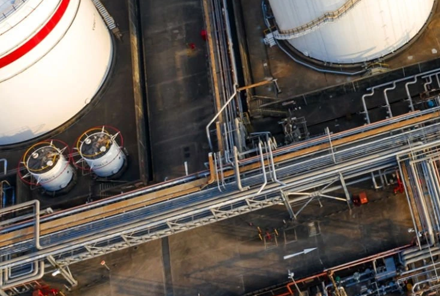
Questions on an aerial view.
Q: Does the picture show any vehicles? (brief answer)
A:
No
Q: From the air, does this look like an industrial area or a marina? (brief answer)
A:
industrial area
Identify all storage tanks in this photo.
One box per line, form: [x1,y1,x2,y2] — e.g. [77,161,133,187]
[269,0,439,67]
[0,0,125,153]
[74,126,131,183]
[20,139,79,197]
